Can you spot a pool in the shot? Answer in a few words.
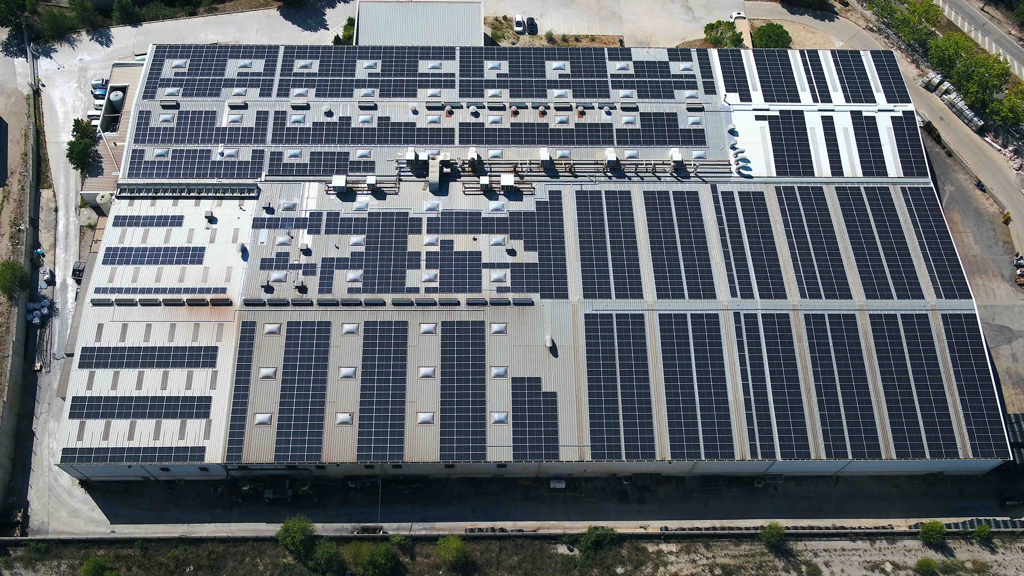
No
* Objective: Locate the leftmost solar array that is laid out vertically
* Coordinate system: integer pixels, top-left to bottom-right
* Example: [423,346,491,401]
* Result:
[226,319,257,464]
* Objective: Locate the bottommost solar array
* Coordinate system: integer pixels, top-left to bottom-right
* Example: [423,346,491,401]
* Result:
[60,445,206,465]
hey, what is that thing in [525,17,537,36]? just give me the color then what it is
black vehicle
